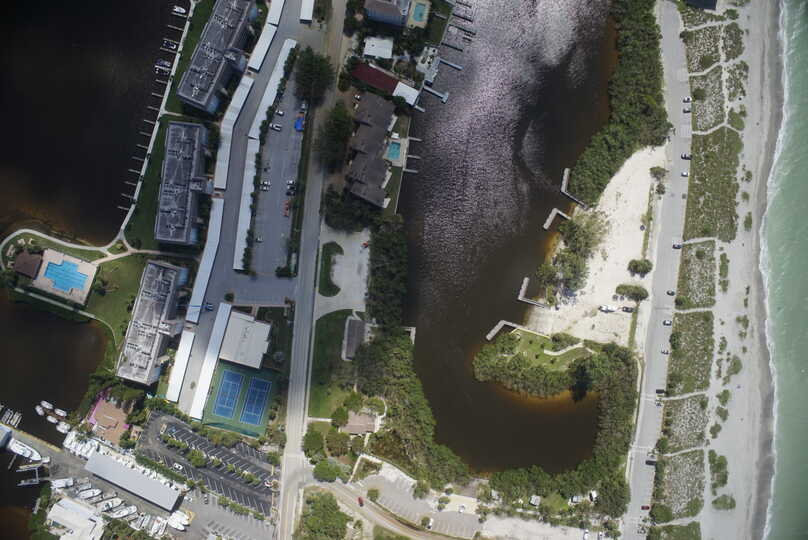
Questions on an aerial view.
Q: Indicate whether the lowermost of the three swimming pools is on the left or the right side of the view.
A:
left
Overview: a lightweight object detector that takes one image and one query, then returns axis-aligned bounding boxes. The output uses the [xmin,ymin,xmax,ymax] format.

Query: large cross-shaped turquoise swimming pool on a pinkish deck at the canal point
[32,249,98,305]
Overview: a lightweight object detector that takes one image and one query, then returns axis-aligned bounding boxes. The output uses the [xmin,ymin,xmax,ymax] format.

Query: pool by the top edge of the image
[407,0,431,28]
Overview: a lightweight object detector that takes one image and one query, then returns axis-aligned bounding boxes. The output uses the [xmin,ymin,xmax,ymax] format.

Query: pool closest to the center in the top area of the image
[385,139,406,166]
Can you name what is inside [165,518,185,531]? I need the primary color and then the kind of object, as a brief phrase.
white boat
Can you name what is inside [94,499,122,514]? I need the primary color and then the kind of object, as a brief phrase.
white boat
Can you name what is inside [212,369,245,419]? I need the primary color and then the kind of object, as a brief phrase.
blue tennis court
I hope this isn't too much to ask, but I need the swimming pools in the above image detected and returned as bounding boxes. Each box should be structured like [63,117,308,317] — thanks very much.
[407,0,431,28]
[385,139,406,166]
[32,249,98,305]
